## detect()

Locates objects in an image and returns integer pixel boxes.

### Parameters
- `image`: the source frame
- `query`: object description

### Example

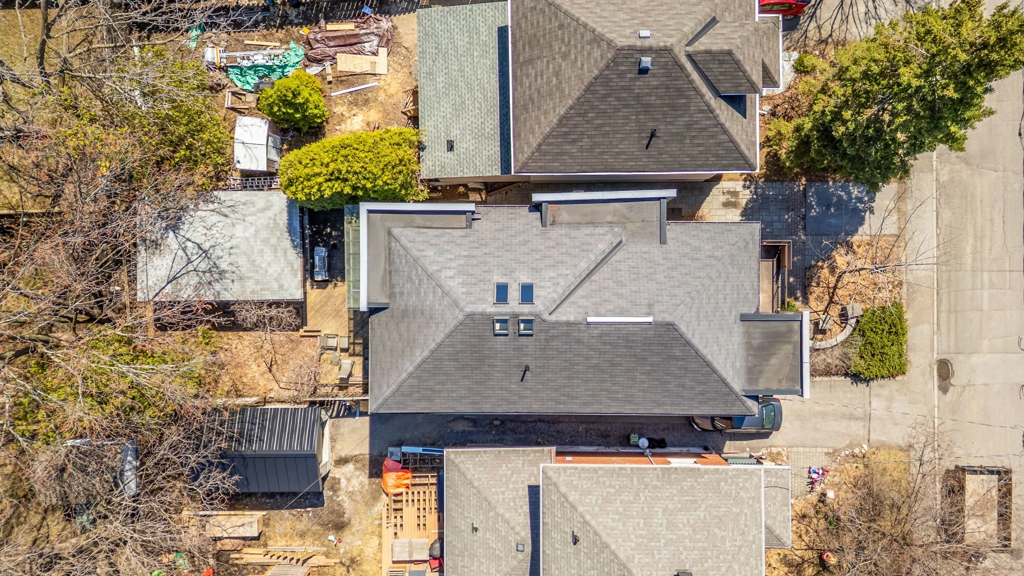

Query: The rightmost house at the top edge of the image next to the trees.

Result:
[506,0,783,181]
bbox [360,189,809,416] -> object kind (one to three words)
house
